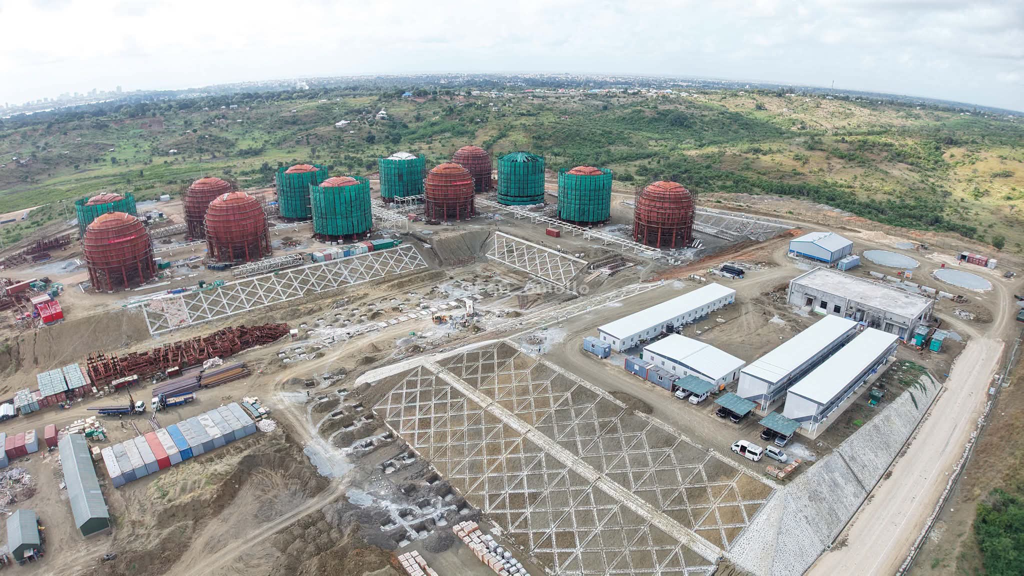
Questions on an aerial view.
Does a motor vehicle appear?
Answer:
Yes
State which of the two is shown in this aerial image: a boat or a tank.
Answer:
tank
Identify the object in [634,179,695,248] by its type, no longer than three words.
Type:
storage tank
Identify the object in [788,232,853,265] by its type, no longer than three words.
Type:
building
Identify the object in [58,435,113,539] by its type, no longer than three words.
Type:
shed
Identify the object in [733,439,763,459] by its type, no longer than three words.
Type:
vehicle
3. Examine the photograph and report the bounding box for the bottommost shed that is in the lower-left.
[7,511,45,563]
